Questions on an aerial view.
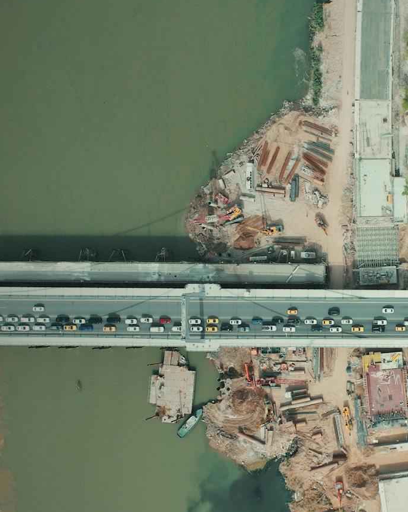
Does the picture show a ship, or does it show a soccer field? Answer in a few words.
ship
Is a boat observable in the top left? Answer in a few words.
No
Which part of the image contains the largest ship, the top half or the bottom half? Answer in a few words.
bottom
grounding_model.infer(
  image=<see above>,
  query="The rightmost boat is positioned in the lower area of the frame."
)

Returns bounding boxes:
[176,411,201,438]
